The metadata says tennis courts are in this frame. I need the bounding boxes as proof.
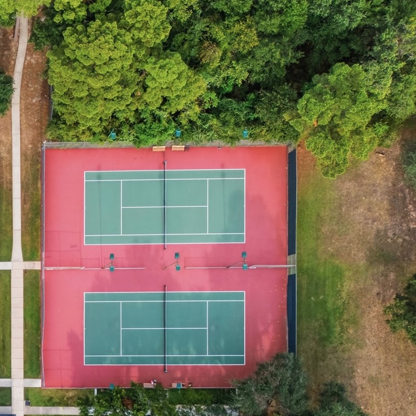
[43,269,288,387]
[44,146,288,269]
